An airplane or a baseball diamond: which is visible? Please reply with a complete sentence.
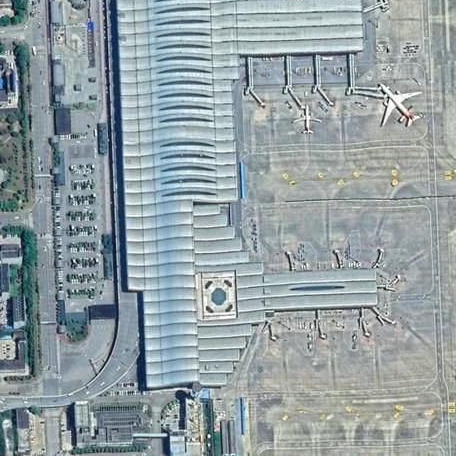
I can see an airplane in this picture.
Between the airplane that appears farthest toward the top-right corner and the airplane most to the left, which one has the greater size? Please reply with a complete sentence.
The airplane that appears farthest toward the top-right corner takes up more space than the airplane most to the left does.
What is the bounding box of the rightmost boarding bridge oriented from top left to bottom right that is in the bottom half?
[371,306,397,327]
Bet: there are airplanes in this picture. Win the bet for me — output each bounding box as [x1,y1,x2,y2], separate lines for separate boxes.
[293,105,322,133]
[378,84,422,125]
